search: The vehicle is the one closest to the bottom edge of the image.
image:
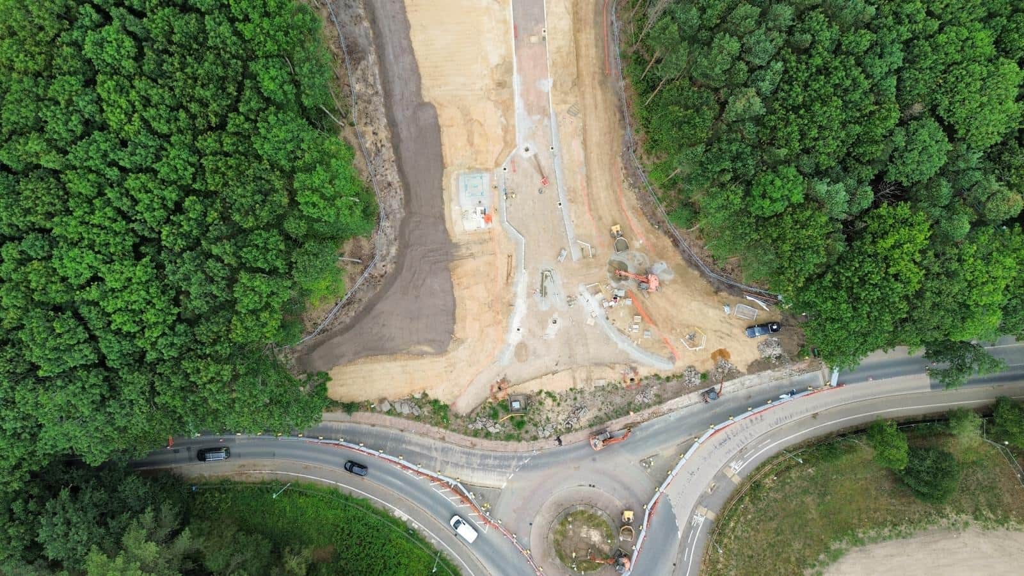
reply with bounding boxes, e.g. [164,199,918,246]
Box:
[596,555,631,573]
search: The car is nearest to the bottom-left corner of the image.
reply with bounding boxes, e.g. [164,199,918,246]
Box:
[195,447,228,463]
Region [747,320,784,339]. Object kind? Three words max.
vehicle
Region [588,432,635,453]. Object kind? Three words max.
work vehicle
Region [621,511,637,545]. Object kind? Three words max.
vehicle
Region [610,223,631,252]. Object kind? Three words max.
truck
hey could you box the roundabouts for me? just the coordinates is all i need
[461,441,697,576]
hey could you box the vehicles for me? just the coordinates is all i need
[195,447,228,463]
[588,432,635,453]
[596,555,631,573]
[621,511,637,545]
[610,223,631,252]
[747,320,784,339]
[342,461,368,478]
[612,267,663,296]
[703,374,723,406]
[449,516,479,548]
